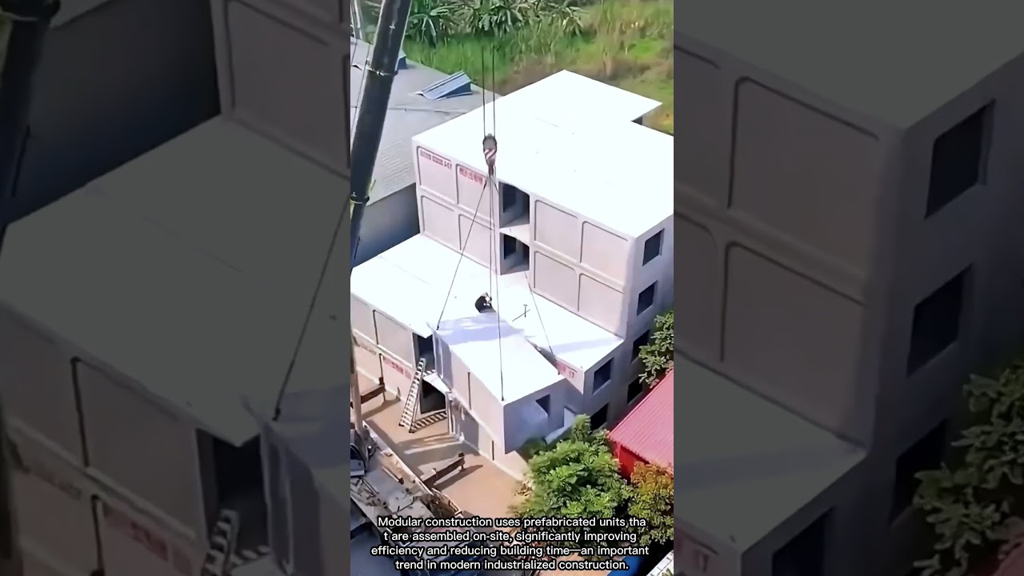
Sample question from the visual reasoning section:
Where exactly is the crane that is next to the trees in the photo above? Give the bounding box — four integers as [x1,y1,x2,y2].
[260,0,476,576]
